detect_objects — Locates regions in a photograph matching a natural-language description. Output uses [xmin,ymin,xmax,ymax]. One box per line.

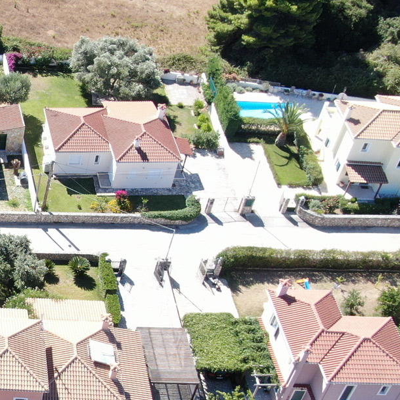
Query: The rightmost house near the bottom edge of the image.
[262,277,400,400]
